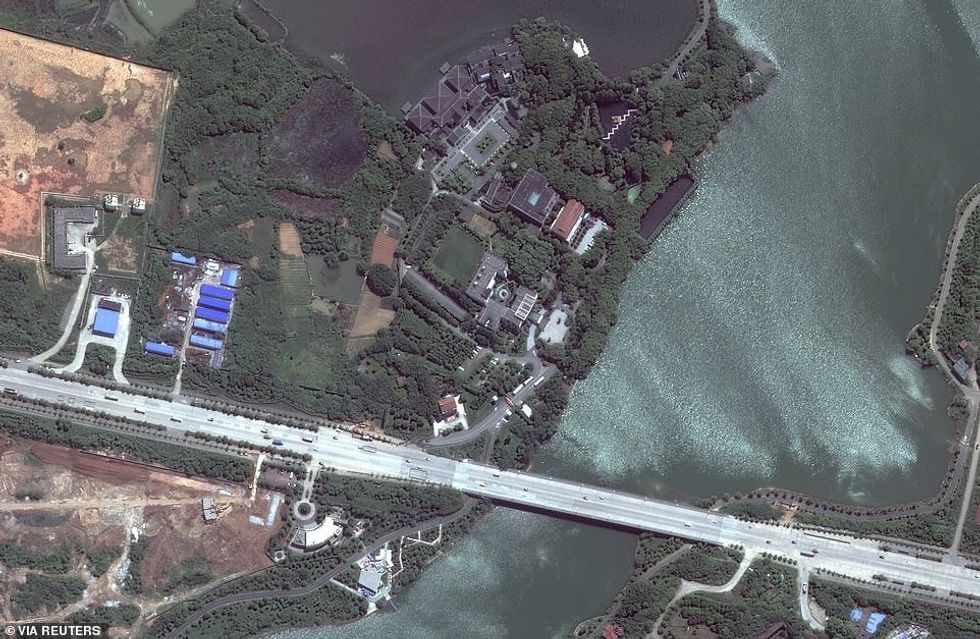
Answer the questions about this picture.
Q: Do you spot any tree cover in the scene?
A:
Yes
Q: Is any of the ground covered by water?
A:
Yes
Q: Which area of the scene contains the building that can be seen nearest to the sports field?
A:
center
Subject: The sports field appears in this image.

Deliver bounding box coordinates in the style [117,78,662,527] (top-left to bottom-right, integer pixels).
[430,224,485,285]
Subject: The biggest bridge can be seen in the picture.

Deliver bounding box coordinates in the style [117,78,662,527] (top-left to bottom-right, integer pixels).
[455,454,724,547]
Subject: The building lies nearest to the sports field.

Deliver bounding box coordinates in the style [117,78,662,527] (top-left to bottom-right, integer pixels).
[466,253,506,306]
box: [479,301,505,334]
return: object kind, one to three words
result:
building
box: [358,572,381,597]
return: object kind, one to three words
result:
building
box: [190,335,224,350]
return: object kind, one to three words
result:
shed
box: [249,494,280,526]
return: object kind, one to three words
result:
shed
